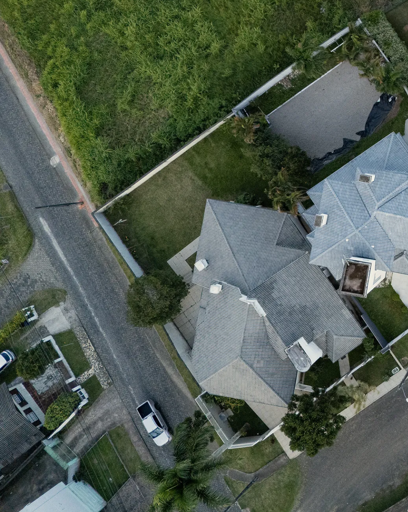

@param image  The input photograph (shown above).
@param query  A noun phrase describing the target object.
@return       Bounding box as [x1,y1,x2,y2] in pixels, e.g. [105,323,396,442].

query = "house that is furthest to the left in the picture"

[0,376,57,470]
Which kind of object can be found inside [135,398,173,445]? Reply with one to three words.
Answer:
truck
